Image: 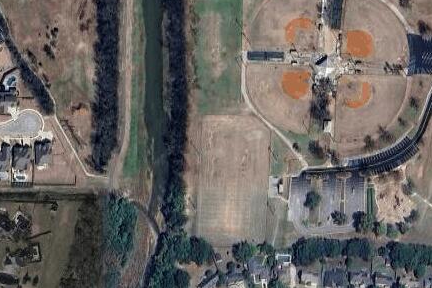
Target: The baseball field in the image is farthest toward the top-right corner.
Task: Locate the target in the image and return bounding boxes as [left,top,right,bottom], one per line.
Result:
[345,0,407,61]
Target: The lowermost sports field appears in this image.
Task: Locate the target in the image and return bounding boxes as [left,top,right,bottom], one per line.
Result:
[197,116,269,239]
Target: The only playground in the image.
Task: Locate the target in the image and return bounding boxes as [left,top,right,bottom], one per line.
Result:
[378,179,417,222]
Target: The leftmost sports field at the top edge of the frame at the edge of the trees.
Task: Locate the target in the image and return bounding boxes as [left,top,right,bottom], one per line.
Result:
[195,0,242,113]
